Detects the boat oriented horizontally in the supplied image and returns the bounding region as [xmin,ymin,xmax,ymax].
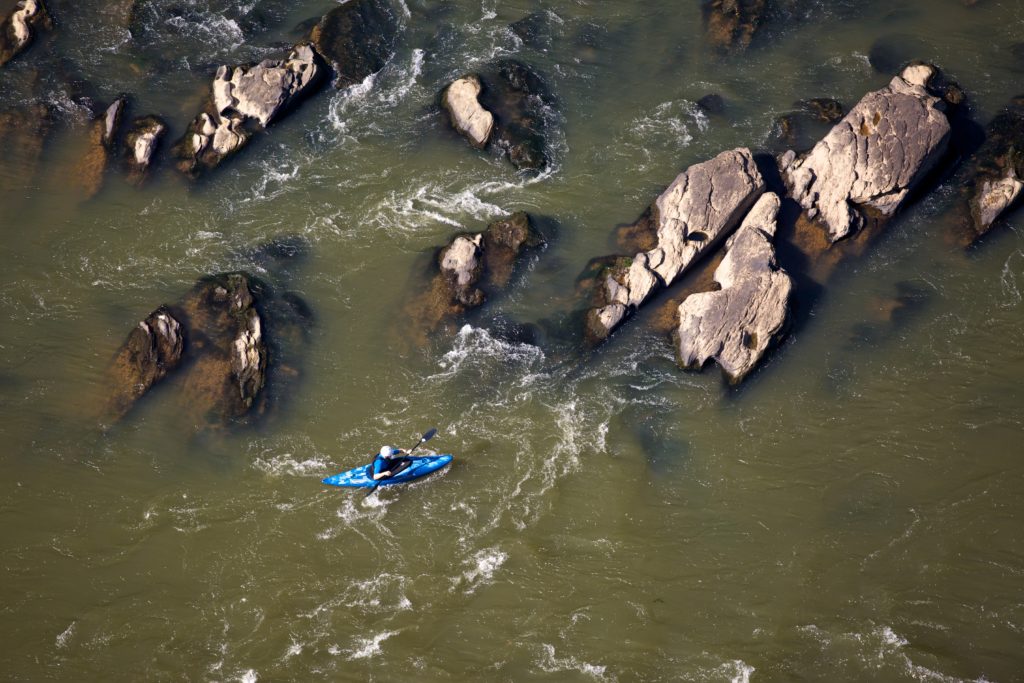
[322,456,452,487]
